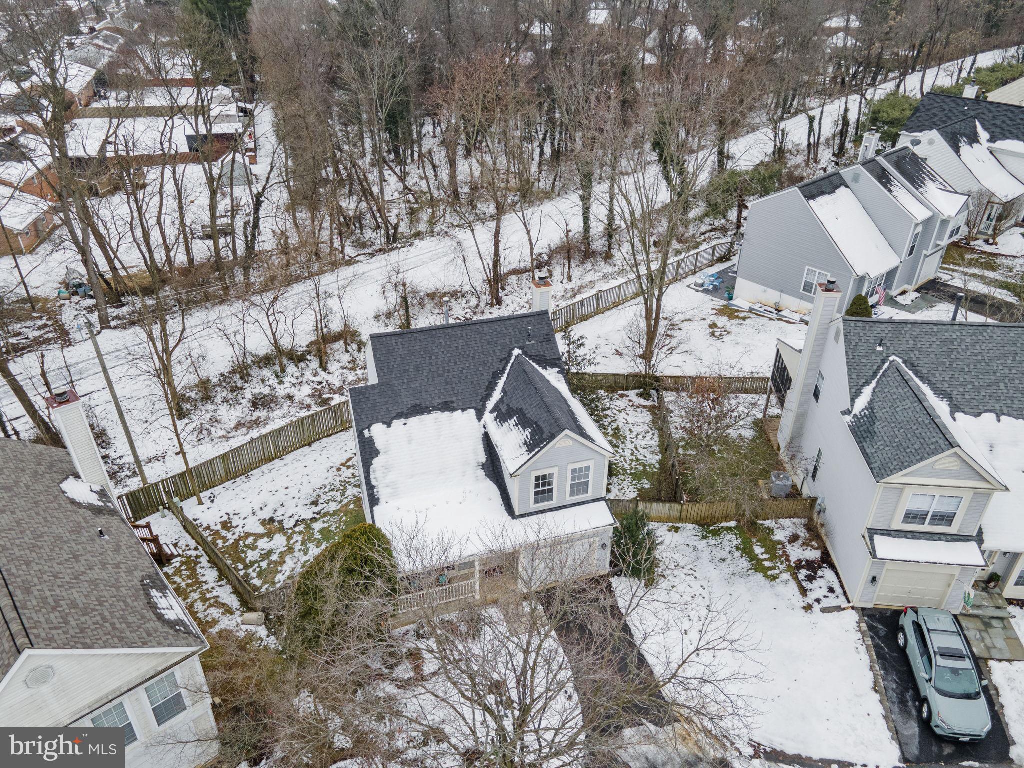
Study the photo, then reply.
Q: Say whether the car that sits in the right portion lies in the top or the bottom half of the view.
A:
bottom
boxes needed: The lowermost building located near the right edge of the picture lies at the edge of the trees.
[773,271,1024,614]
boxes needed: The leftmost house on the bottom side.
[0,382,223,768]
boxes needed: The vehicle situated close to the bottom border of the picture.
[902,604,1001,754]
